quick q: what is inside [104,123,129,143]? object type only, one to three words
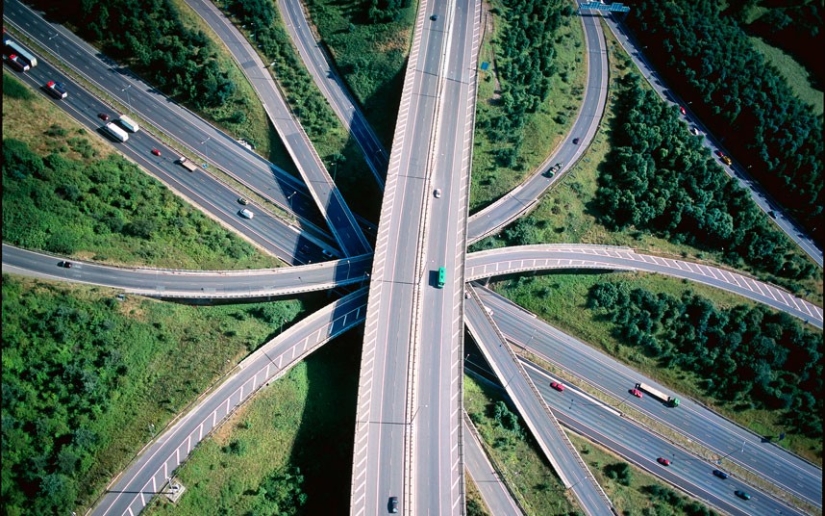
vehicle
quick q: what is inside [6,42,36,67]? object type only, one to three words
truck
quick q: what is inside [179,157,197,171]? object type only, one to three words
vehicle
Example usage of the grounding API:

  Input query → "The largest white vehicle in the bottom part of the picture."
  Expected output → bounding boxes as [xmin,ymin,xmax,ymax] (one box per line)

[638,383,678,409]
